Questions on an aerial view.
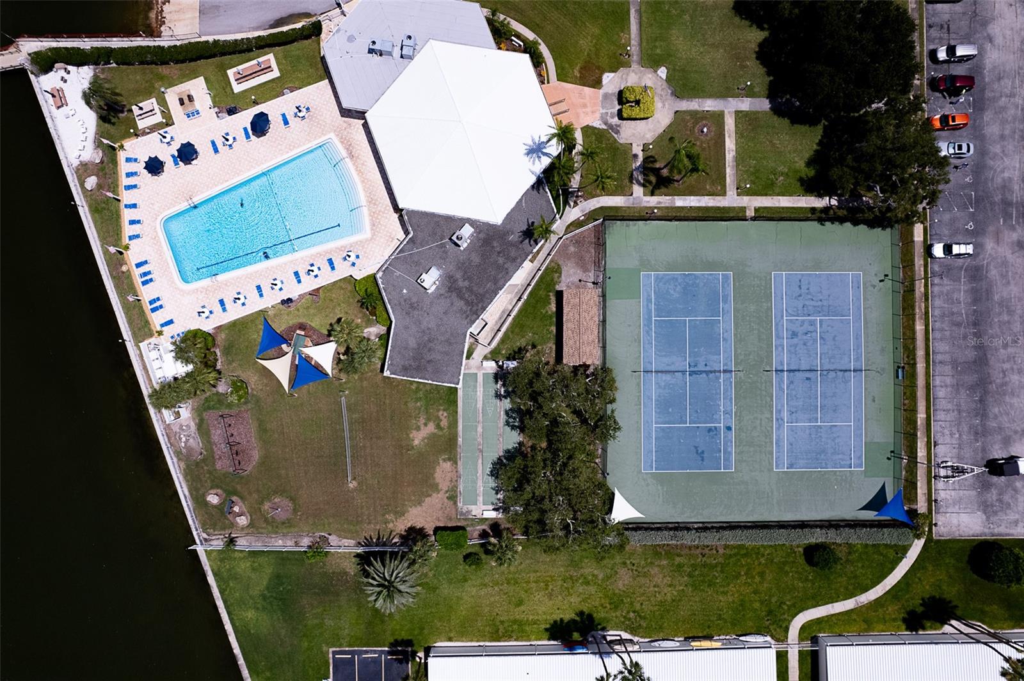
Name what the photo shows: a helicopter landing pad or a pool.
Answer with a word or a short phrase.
pool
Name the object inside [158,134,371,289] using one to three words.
swimming pool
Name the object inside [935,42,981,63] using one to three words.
car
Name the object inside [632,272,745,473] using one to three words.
tennis court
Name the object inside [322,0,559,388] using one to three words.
building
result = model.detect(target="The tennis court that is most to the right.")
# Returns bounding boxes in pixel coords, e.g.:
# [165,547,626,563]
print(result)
[764,272,877,471]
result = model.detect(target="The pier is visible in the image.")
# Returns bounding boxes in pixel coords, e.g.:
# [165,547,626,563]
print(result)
[0,47,29,71]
